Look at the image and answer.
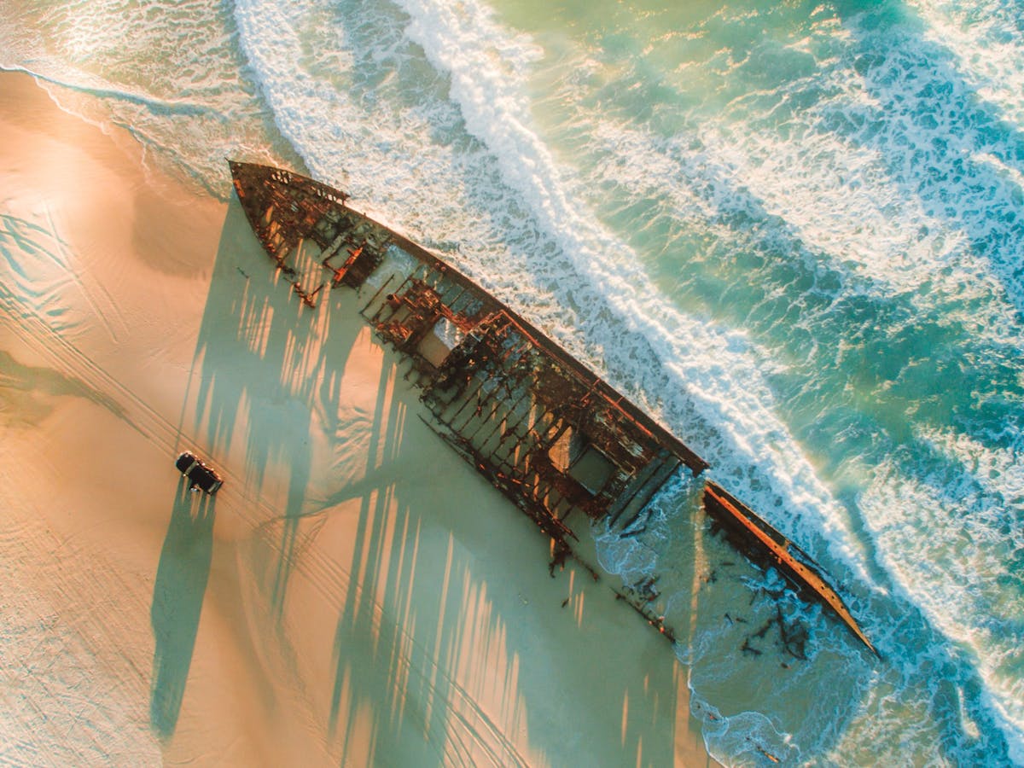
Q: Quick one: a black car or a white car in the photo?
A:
black car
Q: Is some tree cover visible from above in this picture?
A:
No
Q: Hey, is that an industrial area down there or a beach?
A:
beach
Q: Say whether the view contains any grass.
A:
No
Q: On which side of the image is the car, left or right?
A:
left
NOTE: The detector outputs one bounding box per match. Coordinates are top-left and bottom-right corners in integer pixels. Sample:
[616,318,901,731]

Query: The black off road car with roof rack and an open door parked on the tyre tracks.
[171,450,222,492]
